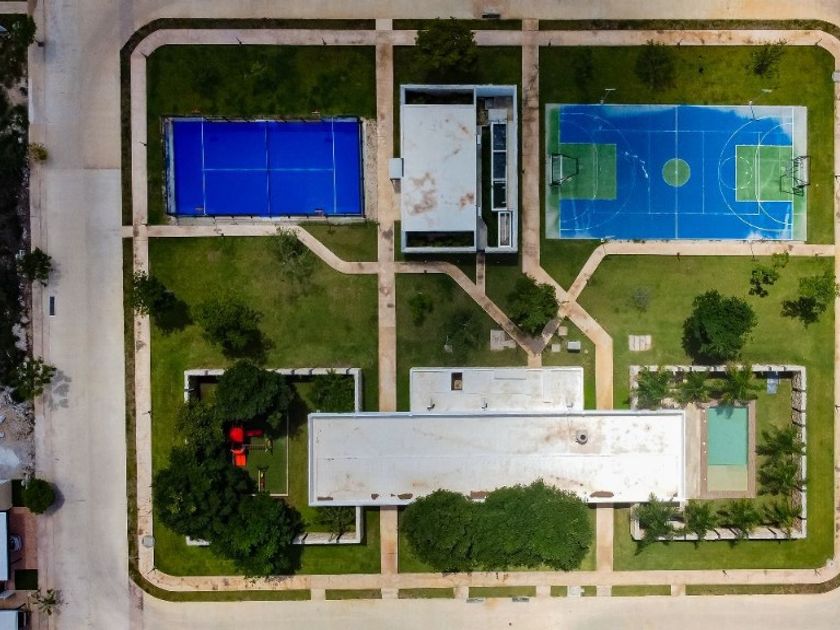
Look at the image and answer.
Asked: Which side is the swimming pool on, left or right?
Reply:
right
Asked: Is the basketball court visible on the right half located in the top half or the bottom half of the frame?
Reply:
top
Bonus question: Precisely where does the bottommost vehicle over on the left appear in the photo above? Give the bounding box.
[7,532,26,550]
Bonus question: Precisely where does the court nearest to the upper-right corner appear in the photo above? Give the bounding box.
[546,103,807,241]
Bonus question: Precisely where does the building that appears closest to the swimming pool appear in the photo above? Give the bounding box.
[308,367,685,505]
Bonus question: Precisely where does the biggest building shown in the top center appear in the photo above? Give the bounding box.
[390,85,517,254]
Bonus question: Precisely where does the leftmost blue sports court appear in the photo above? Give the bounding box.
[164,115,365,223]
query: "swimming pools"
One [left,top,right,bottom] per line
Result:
[684,402,756,499]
